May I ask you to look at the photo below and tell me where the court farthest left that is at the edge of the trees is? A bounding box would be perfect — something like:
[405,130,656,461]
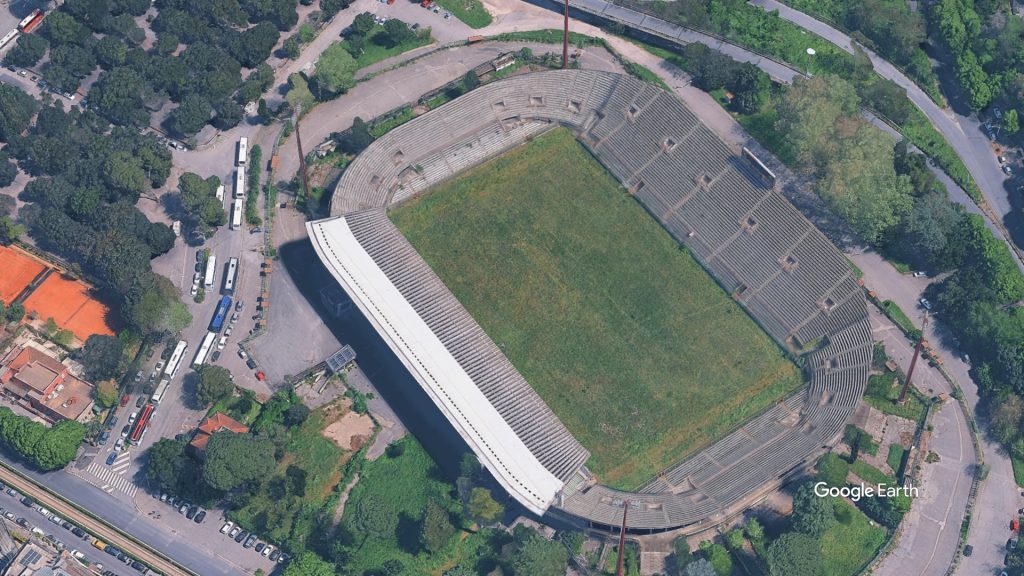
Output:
[0,240,46,305]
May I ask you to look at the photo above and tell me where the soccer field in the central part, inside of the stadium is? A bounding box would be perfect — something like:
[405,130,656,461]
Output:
[389,128,805,490]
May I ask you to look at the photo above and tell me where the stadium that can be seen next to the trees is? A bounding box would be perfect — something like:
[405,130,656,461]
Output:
[306,69,878,554]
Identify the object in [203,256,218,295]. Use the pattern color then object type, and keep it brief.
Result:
white vehicle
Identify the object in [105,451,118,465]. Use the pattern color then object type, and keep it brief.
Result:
blue vehicle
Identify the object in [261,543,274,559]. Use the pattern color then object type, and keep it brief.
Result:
white vehicle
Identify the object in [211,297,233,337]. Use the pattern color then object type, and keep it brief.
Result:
blue bus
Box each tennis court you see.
[23,271,116,342]
[0,240,46,305]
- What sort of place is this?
sports ground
